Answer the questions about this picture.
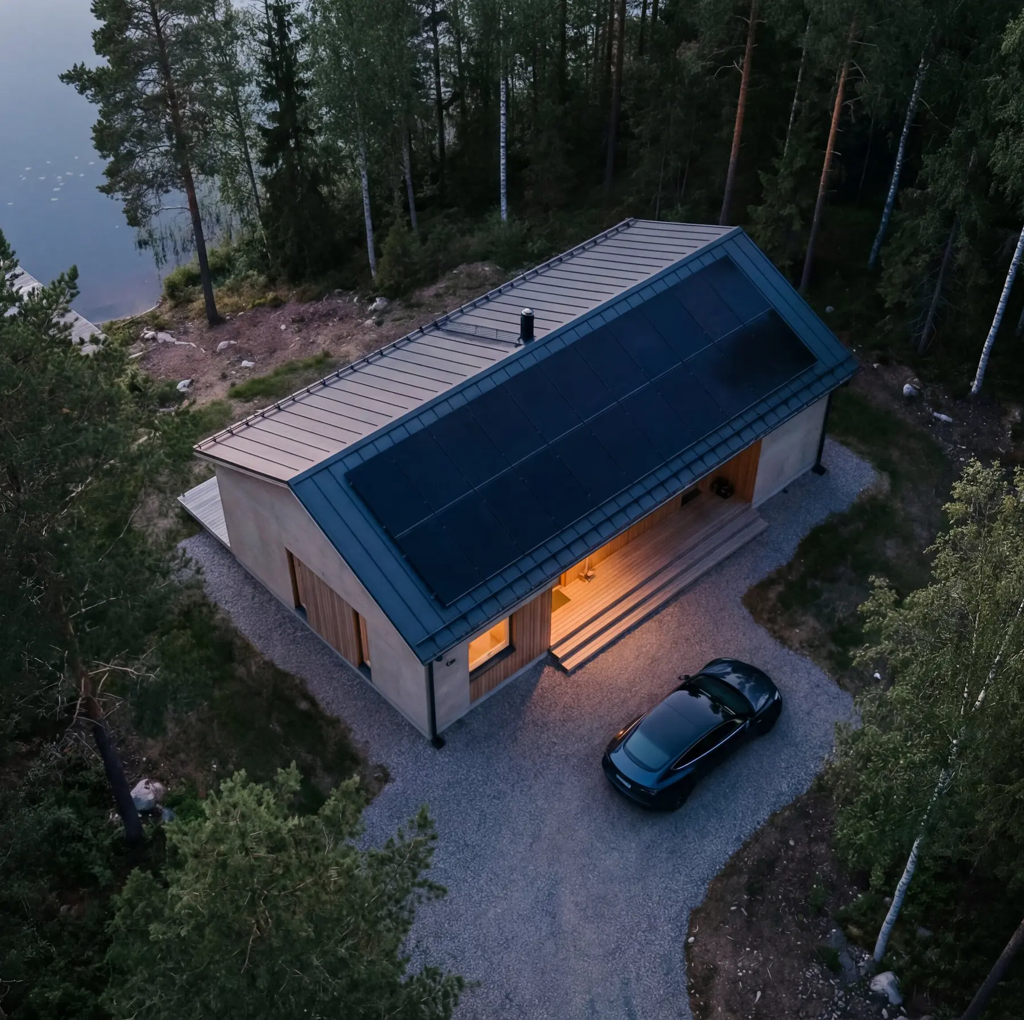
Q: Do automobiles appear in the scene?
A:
Yes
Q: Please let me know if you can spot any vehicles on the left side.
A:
No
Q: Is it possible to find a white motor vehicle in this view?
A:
No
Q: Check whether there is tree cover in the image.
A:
Yes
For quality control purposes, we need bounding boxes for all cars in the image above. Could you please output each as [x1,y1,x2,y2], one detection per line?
[603,656,787,811]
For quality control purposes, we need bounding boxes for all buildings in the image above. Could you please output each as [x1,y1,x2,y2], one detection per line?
[194,215,862,750]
